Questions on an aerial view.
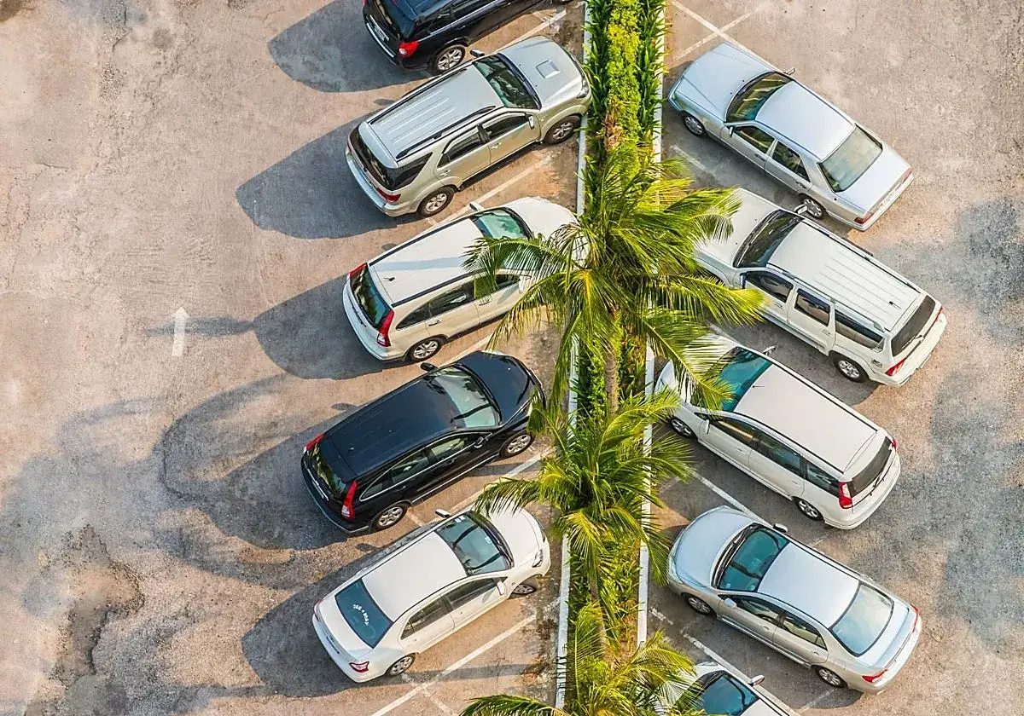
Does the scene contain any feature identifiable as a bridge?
No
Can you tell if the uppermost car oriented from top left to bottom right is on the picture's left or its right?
right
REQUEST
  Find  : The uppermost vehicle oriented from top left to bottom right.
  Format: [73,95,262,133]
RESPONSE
[663,45,908,239]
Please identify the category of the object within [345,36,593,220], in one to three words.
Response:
car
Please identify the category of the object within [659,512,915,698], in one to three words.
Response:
car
